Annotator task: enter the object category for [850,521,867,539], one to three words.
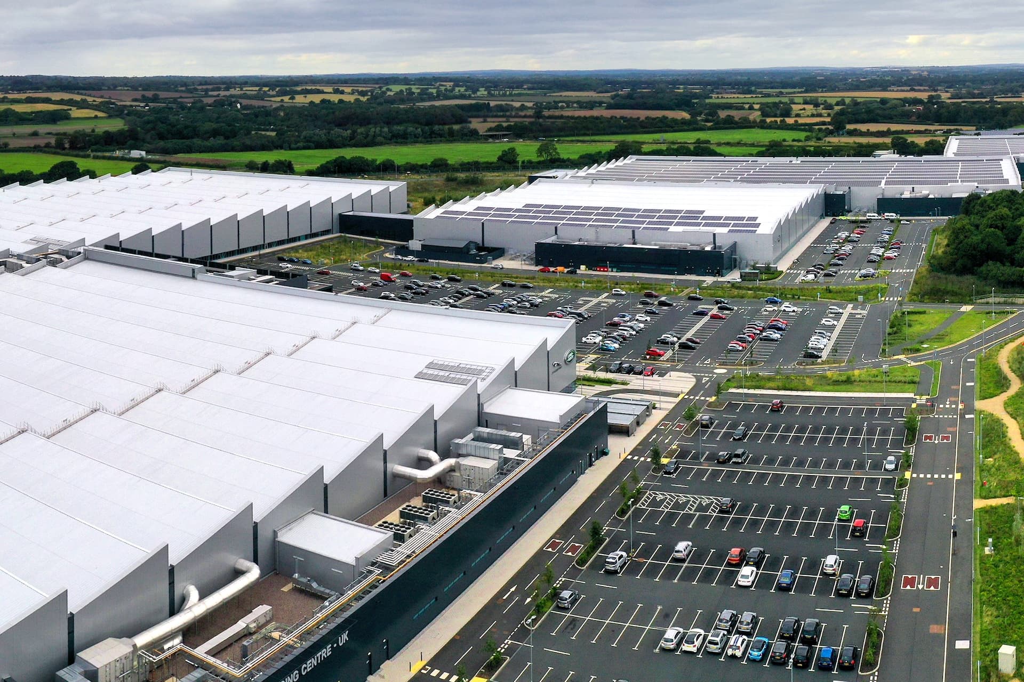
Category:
car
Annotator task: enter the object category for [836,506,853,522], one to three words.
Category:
car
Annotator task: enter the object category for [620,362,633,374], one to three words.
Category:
vehicle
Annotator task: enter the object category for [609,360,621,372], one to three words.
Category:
vehicle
